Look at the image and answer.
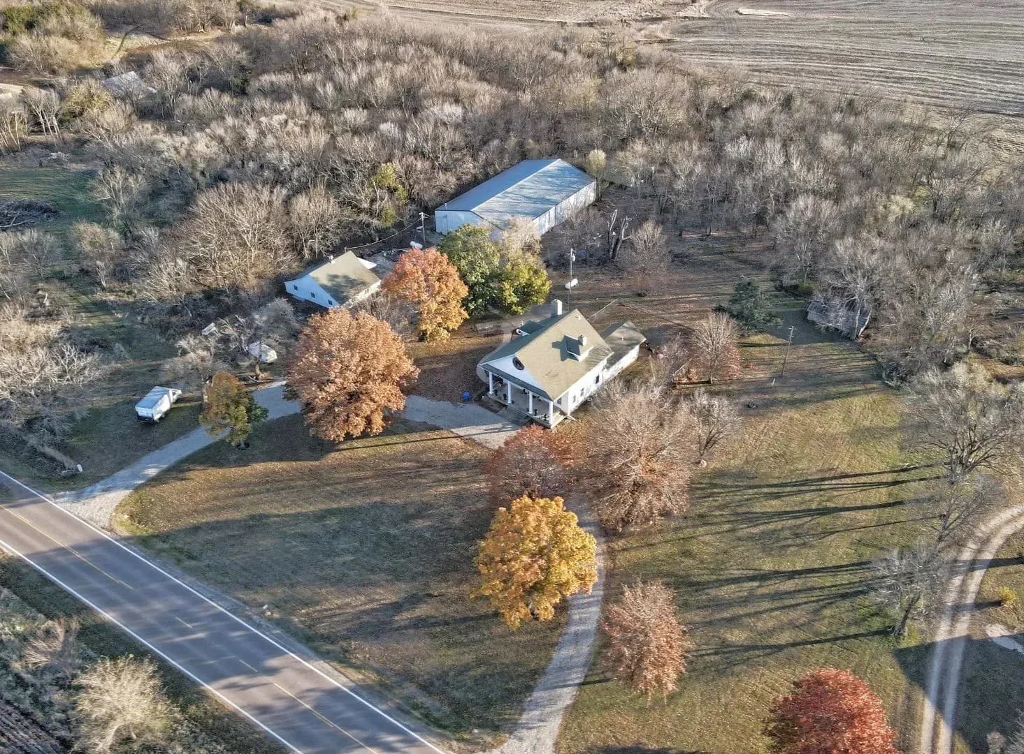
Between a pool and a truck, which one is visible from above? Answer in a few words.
truck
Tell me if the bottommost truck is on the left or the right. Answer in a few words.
left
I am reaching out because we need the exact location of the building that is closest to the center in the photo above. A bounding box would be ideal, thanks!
[477,295,645,429]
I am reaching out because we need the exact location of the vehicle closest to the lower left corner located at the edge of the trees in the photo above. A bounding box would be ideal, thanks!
[135,385,186,422]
